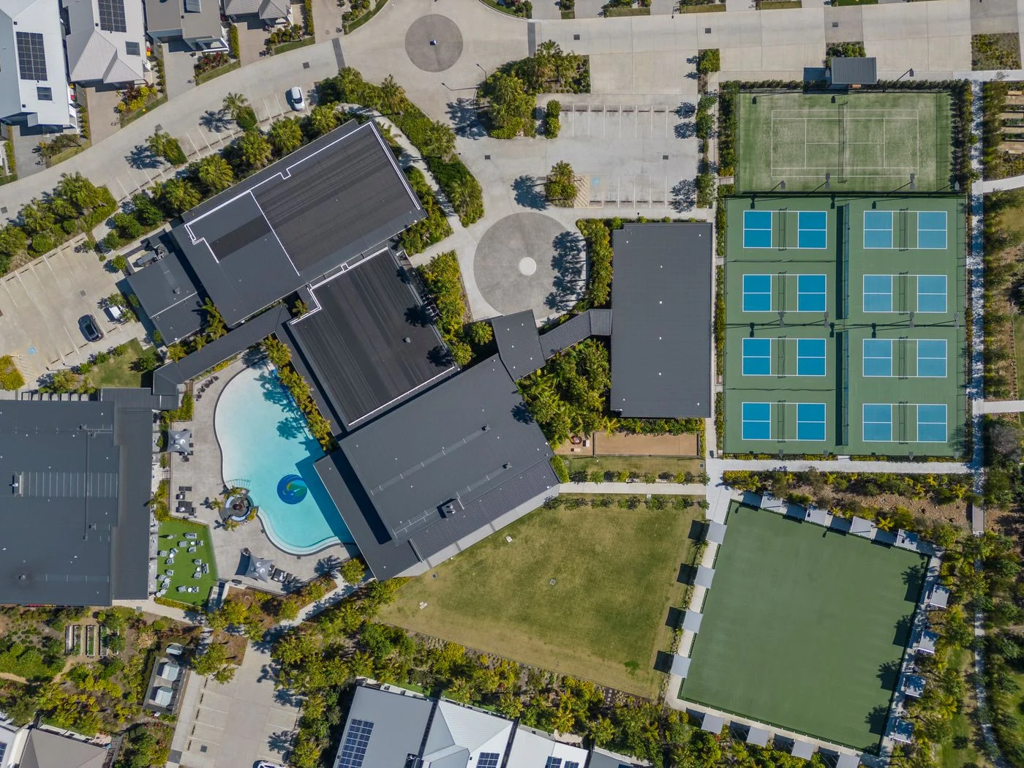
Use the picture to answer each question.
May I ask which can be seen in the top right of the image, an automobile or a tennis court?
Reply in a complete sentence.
The feature located in the top right of the image is a tennis court.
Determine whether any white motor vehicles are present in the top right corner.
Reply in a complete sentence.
No, there's no white motor vehicle to be seen in the top right corner.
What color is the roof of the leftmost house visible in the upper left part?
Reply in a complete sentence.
The roof of the leftmost house visible in the upper left part is white.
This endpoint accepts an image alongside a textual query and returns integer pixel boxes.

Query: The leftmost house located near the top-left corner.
[0,0,78,128]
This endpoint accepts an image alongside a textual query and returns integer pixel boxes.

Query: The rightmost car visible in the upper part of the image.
[288,85,305,112]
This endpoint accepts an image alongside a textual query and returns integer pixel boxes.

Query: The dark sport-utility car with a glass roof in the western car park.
[77,312,102,343]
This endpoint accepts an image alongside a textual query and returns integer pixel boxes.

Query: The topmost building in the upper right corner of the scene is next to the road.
[825,57,877,90]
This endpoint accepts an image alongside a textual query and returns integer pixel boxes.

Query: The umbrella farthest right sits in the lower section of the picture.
[244,549,276,582]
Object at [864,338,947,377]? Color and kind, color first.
blue sports court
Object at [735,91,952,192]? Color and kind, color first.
green tennis court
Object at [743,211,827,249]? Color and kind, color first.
blue sports court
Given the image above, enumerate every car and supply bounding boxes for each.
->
[256,759,285,768]
[77,312,102,343]
[288,85,305,112]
